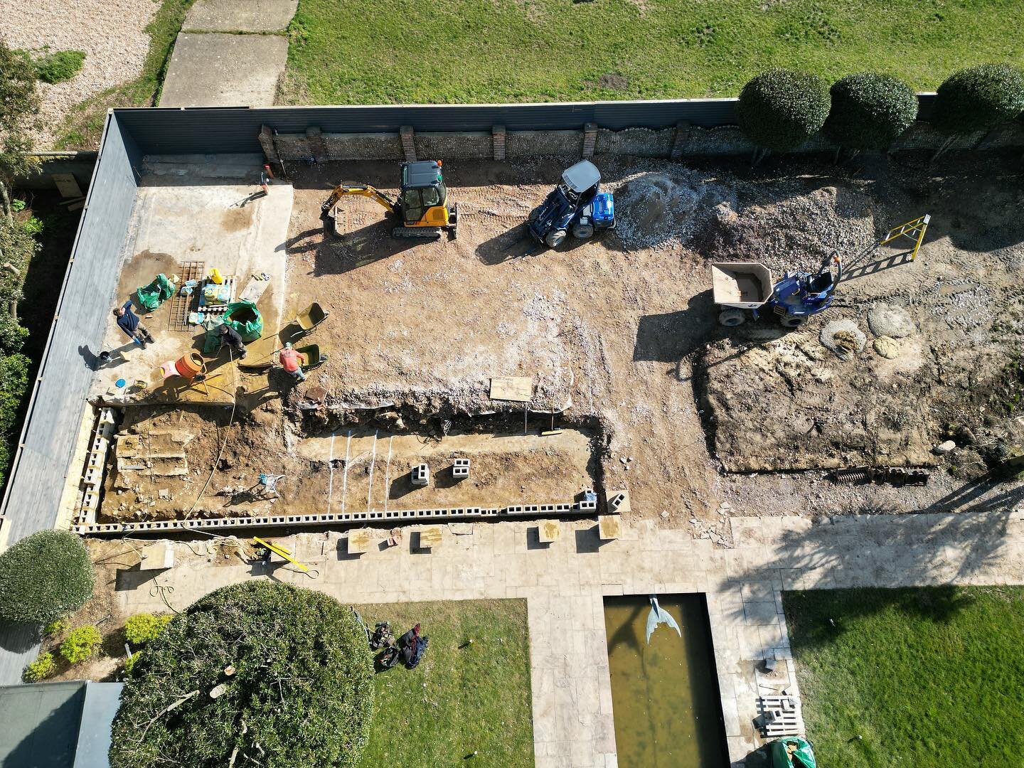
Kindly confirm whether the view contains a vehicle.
Yes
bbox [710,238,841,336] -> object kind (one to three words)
truck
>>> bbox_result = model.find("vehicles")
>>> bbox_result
[499,154,619,270]
[326,157,465,239]
[710,238,841,336]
